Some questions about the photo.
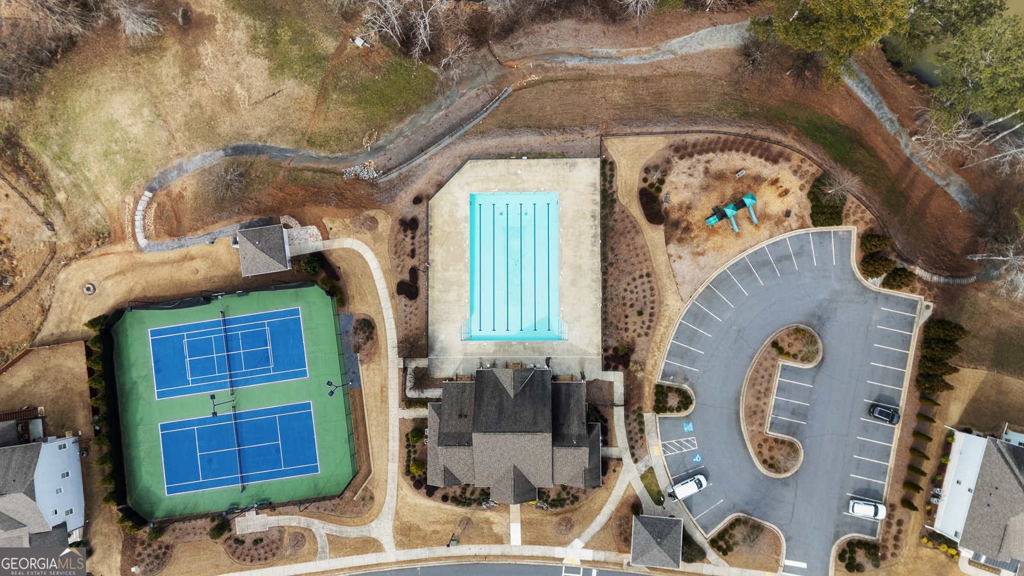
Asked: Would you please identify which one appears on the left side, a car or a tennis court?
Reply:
tennis court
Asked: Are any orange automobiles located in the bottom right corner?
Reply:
No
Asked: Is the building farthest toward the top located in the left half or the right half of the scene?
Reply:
left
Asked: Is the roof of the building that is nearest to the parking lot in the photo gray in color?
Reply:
Yes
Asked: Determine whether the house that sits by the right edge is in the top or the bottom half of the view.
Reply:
bottom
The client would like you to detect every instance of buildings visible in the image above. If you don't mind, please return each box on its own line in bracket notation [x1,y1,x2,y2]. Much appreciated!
[934,422,1024,575]
[0,406,84,576]
[226,224,296,277]
[427,360,602,505]
[629,510,684,569]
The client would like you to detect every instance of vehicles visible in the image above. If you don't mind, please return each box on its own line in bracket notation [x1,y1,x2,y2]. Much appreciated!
[847,499,884,519]
[866,404,899,422]
[668,475,707,504]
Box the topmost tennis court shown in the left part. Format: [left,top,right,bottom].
[149,307,308,400]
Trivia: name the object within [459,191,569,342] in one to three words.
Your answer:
swimming pool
